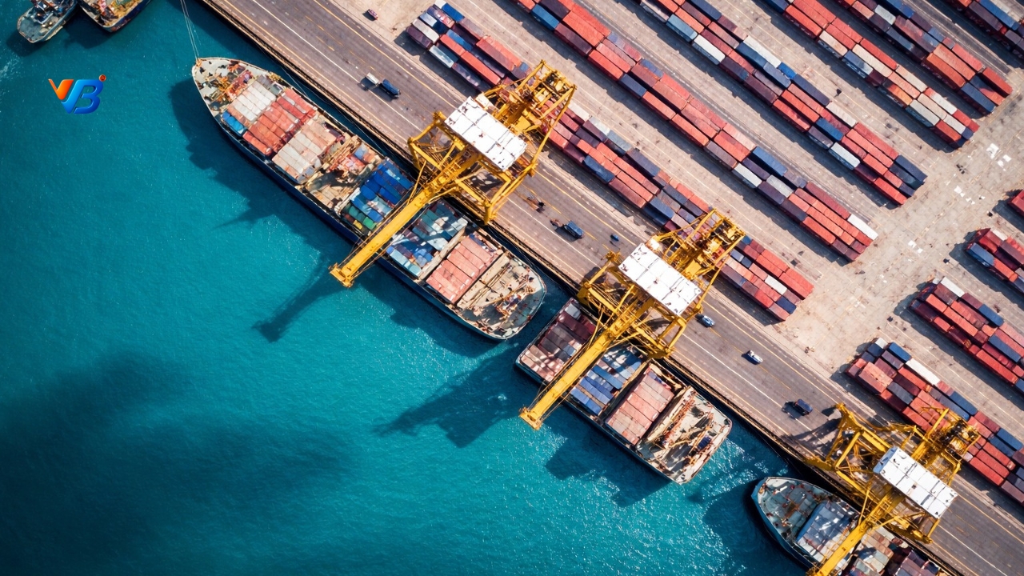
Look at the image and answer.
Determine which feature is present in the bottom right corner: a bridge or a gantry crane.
gantry crane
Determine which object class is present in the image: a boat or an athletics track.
boat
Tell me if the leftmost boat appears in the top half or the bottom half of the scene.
top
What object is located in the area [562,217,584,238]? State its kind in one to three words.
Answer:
truck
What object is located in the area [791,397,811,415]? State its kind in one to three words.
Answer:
vehicle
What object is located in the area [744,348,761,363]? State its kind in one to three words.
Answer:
car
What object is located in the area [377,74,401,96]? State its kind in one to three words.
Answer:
truck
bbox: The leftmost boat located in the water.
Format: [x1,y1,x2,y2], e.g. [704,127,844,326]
[18,0,86,48]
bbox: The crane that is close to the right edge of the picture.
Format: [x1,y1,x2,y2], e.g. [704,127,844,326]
[794,394,982,576]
